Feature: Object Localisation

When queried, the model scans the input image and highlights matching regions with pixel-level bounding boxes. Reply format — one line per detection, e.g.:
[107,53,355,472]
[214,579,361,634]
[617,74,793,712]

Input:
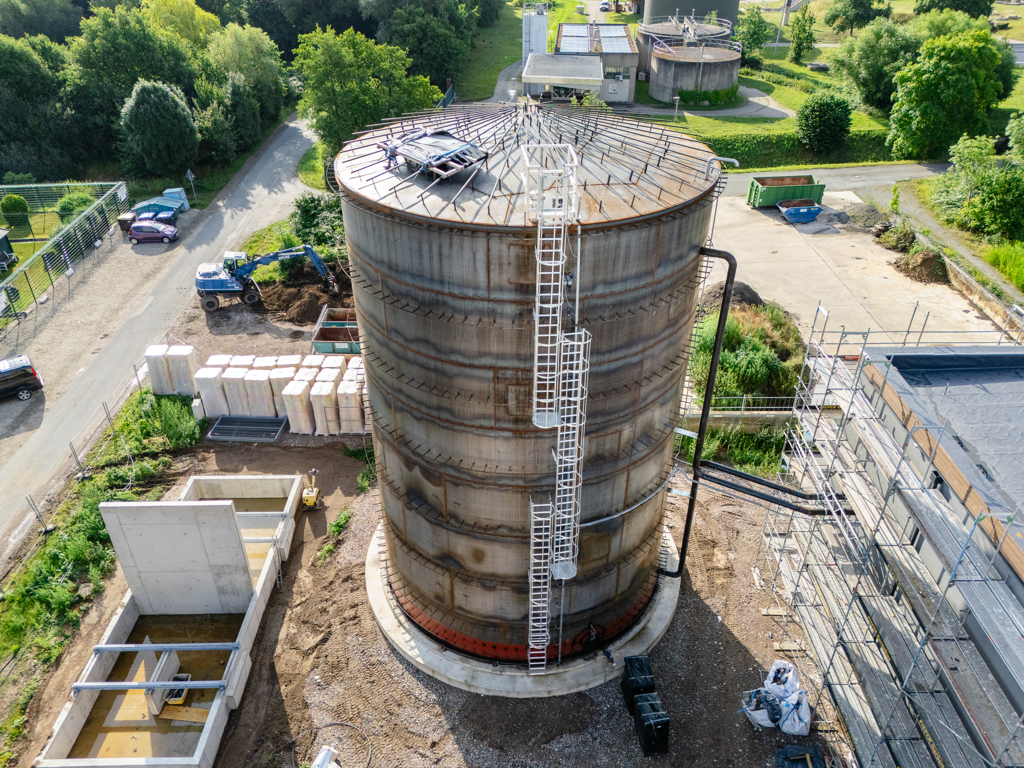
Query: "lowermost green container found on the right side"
[744,175,828,205]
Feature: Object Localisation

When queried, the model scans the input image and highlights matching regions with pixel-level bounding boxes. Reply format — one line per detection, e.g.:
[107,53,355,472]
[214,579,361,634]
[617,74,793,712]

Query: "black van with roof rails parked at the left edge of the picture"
[0,349,55,399]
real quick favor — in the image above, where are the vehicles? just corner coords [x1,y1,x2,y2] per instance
[188,238,350,306]
[600,2,609,10]
[0,349,55,399]
[126,216,184,243]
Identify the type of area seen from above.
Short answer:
industrial area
